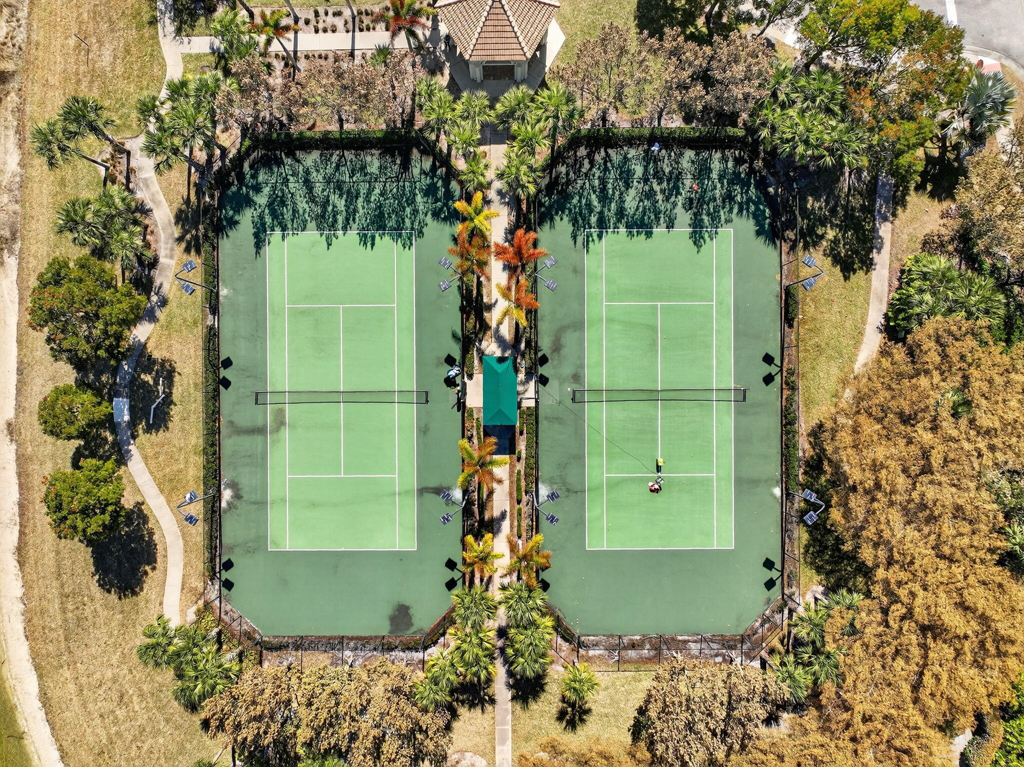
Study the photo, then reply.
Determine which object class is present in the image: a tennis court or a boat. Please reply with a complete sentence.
This aerial view contains a tennis court.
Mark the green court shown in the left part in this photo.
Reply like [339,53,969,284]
[220,146,465,637]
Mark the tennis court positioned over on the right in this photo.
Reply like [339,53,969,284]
[538,145,782,635]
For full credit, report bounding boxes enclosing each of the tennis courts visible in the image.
[538,145,782,635]
[220,146,465,637]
